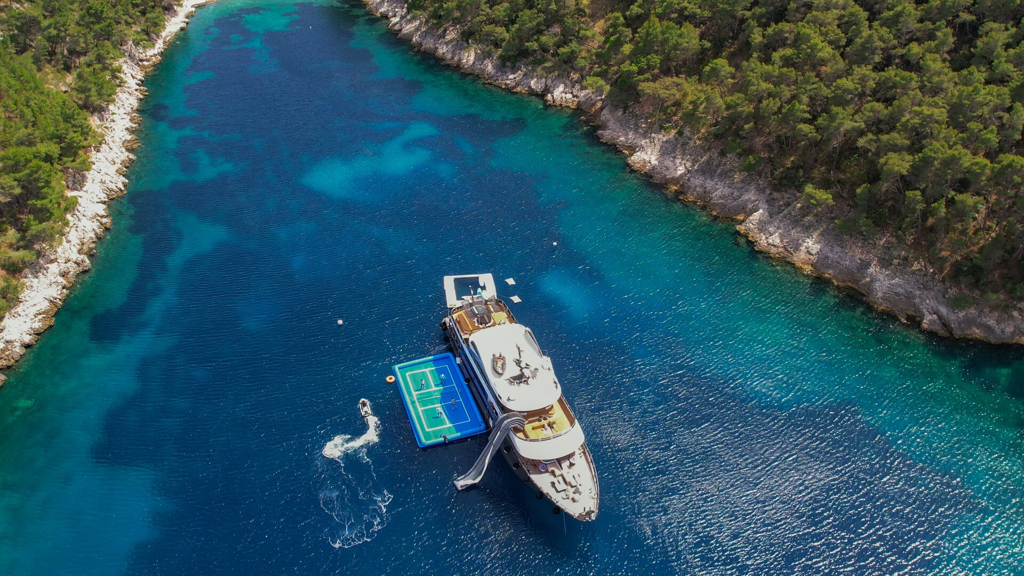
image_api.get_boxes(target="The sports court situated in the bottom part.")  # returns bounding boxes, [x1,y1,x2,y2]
[391,351,486,448]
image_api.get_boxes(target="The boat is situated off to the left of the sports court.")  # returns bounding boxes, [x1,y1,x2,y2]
[359,399,371,419]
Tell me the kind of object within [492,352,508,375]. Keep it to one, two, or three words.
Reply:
boat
